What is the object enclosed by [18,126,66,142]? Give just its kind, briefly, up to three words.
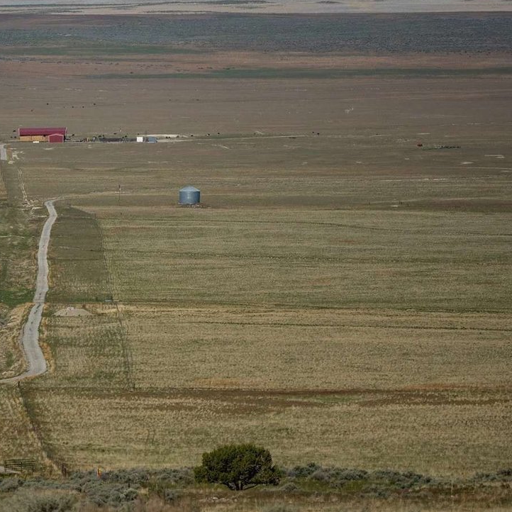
barn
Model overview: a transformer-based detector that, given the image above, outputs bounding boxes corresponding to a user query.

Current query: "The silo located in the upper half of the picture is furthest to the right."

[178,188,201,205]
